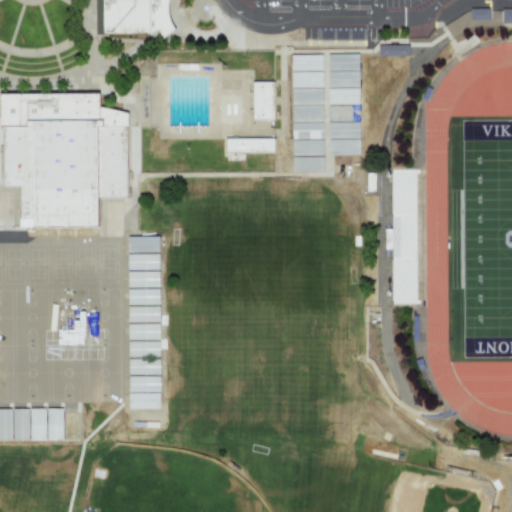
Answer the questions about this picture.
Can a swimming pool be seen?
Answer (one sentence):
Yes, you can see a swimming pool in this photo.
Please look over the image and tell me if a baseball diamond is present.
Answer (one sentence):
Yes, the picture does show a baseball diamond.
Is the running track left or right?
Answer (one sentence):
The running track sits on the right side.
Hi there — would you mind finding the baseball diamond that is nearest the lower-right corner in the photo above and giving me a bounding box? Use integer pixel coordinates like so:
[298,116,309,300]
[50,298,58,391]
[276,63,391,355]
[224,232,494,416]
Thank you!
[391,472,495,512]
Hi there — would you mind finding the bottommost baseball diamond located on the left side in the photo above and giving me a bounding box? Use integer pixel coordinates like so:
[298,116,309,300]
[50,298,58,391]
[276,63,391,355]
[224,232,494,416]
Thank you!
[87,443,272,512]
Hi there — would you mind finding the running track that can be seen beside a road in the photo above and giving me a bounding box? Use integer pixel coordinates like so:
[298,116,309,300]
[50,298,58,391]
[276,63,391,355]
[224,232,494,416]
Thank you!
[427,42,512,436]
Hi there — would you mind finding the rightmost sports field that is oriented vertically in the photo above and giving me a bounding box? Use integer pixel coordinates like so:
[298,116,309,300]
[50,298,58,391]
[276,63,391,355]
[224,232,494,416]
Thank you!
[449,118,512,362]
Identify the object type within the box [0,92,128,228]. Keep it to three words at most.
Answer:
building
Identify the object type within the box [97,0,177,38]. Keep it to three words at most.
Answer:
building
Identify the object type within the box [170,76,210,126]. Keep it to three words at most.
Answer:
swimming pool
